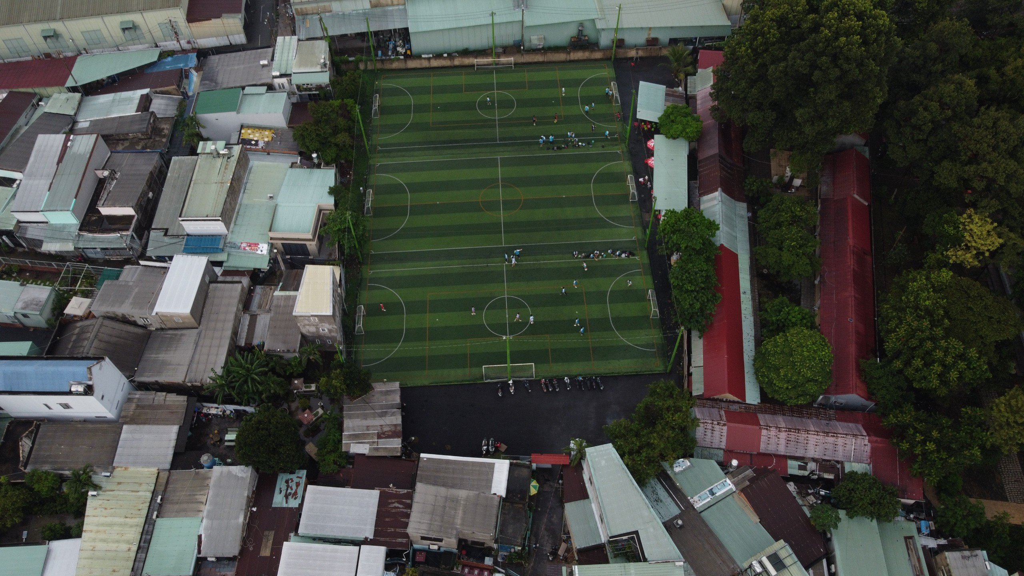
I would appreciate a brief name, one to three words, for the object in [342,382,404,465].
shed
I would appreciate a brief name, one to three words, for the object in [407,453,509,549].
house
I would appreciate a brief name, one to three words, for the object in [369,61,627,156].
soccer field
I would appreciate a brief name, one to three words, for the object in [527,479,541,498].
umbrella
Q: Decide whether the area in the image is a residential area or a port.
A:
residential area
